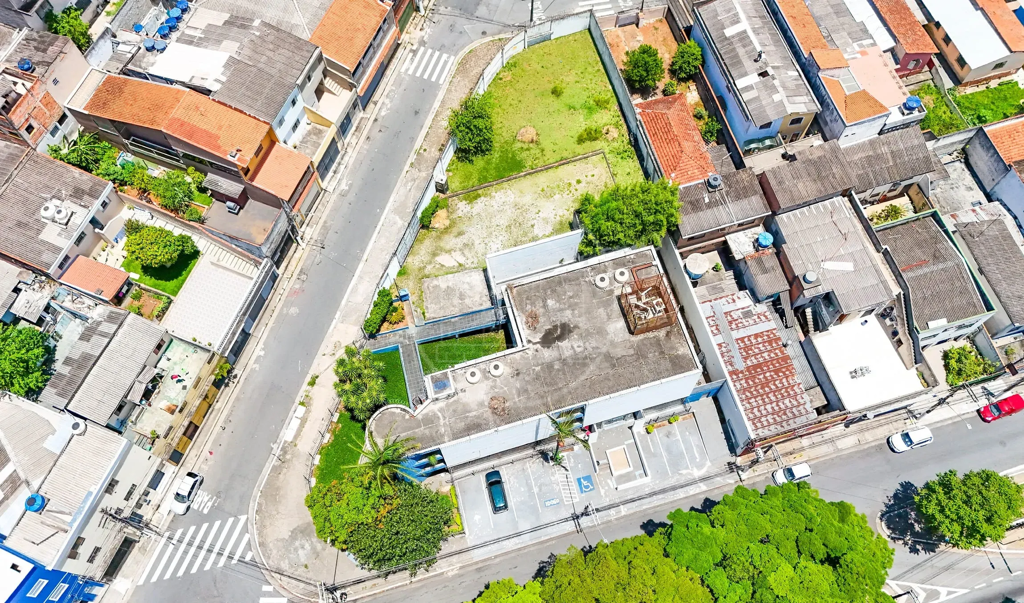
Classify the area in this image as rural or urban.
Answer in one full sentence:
The area is urban.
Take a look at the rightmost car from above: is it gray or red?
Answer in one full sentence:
The rightmost car looks red in the image.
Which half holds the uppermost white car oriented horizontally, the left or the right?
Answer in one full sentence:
The uppermost white car oriented horizontally is on the right side of the image.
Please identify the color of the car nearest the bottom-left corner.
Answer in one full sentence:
From above, the car nearest the bottom-left corner appears white.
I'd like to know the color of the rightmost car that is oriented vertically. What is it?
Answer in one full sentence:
In this view, the rightmost car that is oriented vertically is blue.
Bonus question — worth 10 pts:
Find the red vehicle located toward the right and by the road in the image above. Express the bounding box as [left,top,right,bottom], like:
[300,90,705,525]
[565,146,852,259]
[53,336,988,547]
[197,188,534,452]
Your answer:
[981,394,1024,422]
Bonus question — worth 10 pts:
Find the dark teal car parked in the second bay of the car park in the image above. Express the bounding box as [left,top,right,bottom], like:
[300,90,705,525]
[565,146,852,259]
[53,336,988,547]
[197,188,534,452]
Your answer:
[485,469,509,514]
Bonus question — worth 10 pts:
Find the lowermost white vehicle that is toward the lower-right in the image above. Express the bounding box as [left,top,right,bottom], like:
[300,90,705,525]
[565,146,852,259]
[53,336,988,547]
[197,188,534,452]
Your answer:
[770,460,814,487]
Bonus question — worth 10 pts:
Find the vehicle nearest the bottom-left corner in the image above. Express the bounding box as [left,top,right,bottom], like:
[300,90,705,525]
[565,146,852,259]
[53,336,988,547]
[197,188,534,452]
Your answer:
[169,469,205,515]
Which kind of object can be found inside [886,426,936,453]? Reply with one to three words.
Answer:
car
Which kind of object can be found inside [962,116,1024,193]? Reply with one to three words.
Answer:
house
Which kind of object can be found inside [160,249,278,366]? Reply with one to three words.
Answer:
building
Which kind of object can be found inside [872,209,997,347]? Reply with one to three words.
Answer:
building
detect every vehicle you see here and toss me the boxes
[886,426,936,453]
[485,469,509,514]
[770,460,814,487]
[981,394,1024,422]
[169,469,205,515]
